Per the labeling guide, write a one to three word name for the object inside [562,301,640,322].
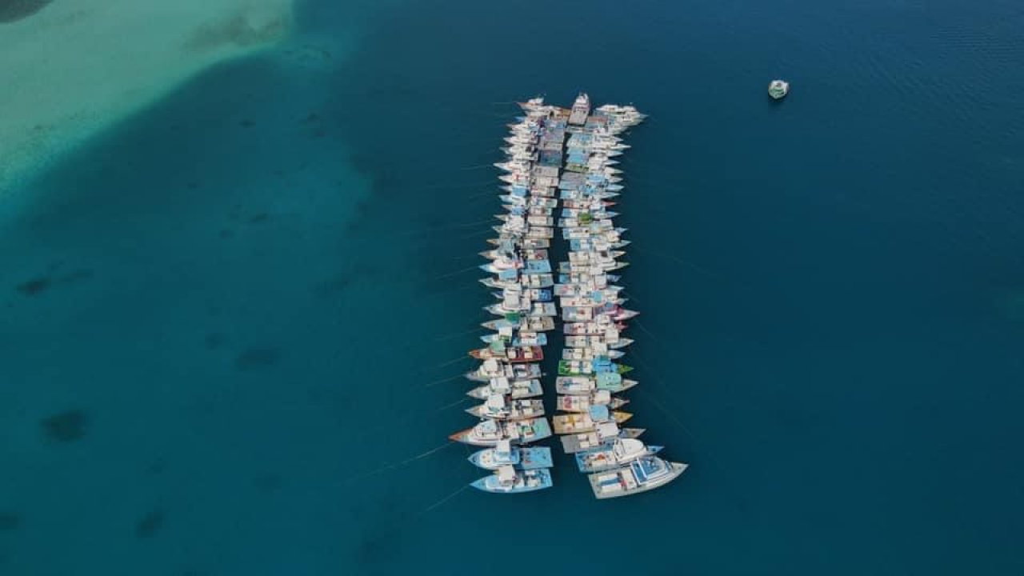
boat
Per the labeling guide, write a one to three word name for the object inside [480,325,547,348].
boat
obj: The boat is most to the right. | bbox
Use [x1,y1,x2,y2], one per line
[768,76,788,103]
